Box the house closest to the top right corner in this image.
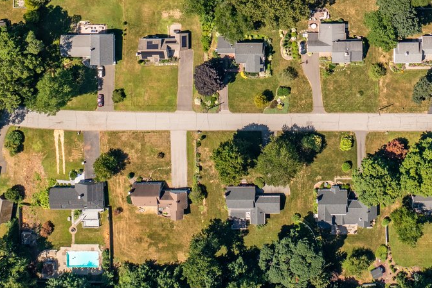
[393,35,432,65]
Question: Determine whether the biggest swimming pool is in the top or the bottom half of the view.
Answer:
bottom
